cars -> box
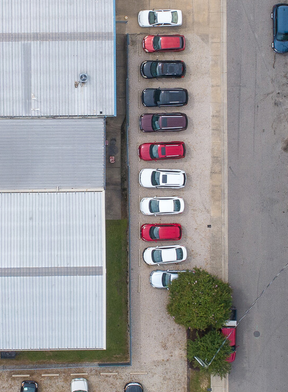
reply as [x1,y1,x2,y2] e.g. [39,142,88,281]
[143,245,187,266]
[142,34,185,53]
[140,59,186,79]
[20,380,39,392]
[139,168,186,189]
[138,141,186,161]
[141,86,188,107]
[138,7,183,27]
[140,223,182,243]
[140,197,184,216]
[70,376,88,392]
[140,111,187,132]
[149,270,193,291]
[124,381,144,392]
[270,3,288,53]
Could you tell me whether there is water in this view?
No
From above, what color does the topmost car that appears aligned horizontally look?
white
